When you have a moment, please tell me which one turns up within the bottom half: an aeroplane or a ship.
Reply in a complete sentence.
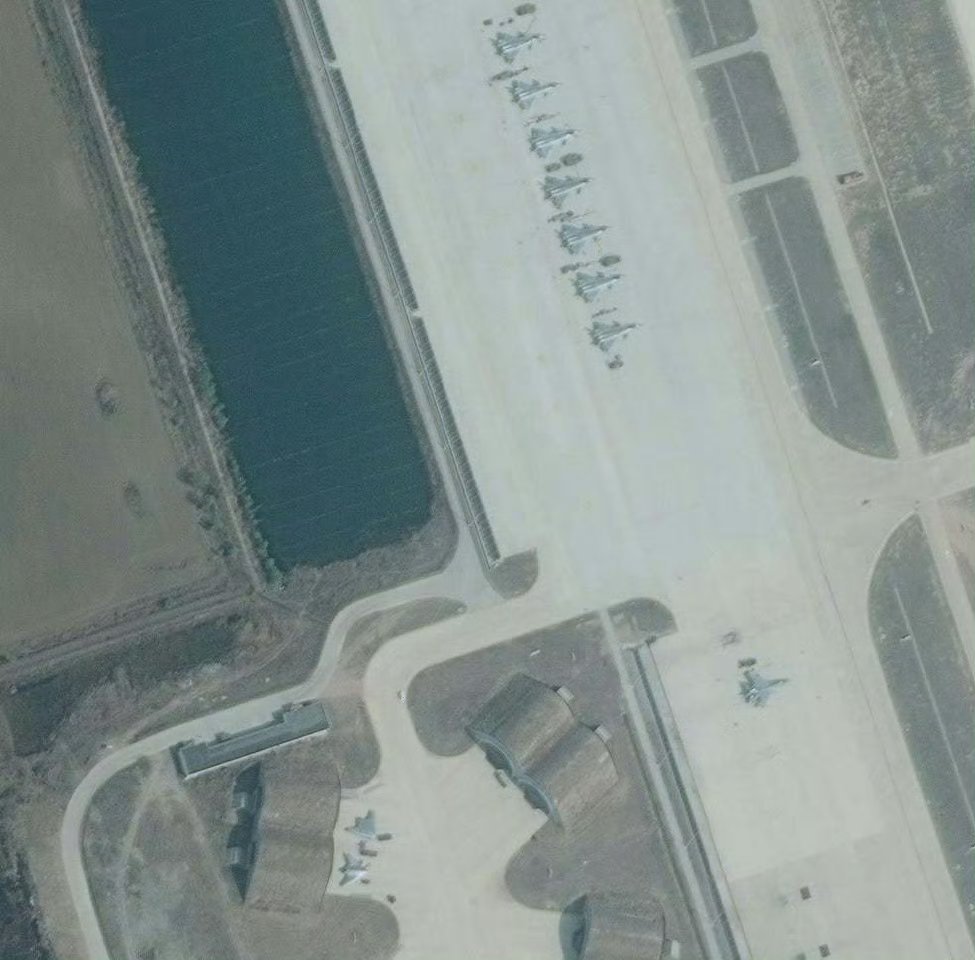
The feature located within the bottom half is an aeroplane.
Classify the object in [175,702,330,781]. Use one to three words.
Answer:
building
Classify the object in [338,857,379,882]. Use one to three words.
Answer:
airplane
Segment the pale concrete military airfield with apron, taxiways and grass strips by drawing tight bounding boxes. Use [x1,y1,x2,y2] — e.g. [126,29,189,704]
[318,0,975,960]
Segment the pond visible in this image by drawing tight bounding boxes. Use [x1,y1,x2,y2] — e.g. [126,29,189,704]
[83,0,435,573]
